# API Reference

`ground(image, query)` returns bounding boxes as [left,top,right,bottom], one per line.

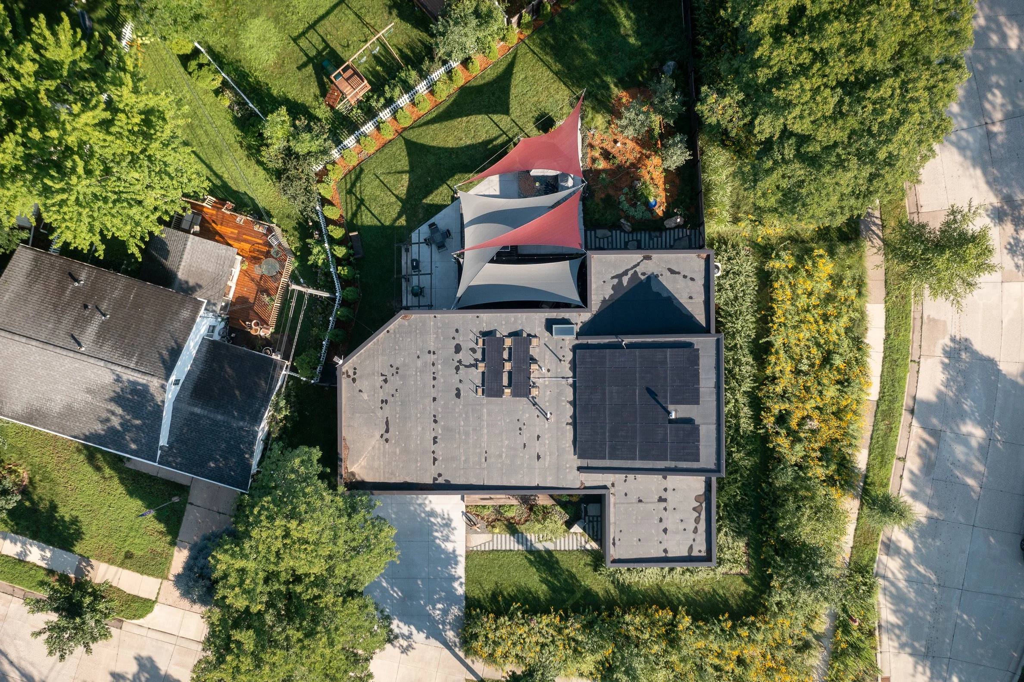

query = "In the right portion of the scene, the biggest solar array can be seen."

[576,350,698,463]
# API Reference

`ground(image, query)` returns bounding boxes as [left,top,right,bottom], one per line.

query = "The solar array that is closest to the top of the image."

[477,337,539,397]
